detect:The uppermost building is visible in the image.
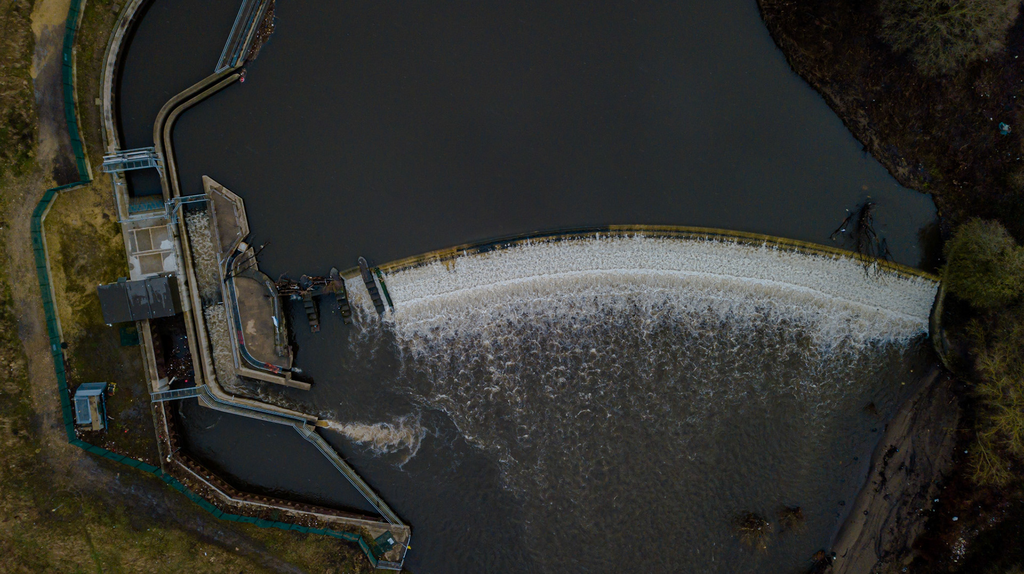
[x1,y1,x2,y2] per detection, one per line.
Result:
[97,275,186,325]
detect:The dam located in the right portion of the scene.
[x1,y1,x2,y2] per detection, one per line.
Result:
[378,224,946,287]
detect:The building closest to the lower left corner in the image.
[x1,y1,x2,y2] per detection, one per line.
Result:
[76,382,111,396]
